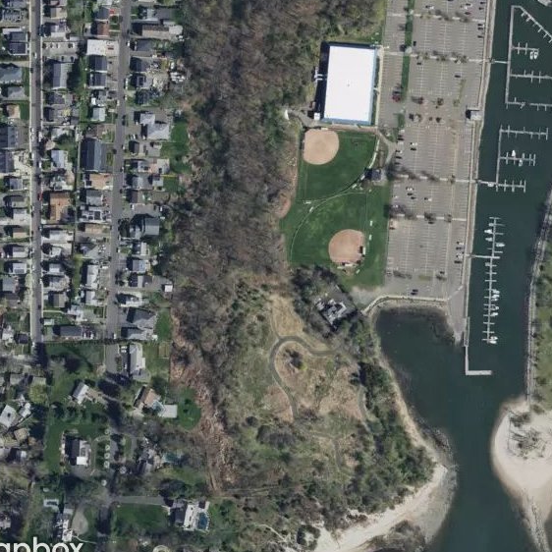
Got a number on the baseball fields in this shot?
2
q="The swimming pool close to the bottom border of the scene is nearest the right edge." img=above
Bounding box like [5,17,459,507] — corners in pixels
[196,501,210,532]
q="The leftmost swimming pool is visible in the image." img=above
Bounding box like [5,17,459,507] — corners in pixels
[43,498,59,511]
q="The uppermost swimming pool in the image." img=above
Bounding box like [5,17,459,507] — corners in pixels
[151,403,177,418]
